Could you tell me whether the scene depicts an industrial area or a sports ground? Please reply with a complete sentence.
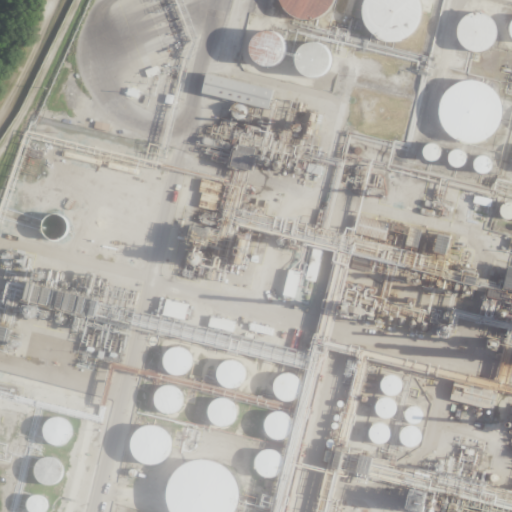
The picture captures an industrial area.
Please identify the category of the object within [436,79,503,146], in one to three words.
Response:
storage tank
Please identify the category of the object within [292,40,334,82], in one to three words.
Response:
storage tank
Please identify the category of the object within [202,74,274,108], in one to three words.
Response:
shed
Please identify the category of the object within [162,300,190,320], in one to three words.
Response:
house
